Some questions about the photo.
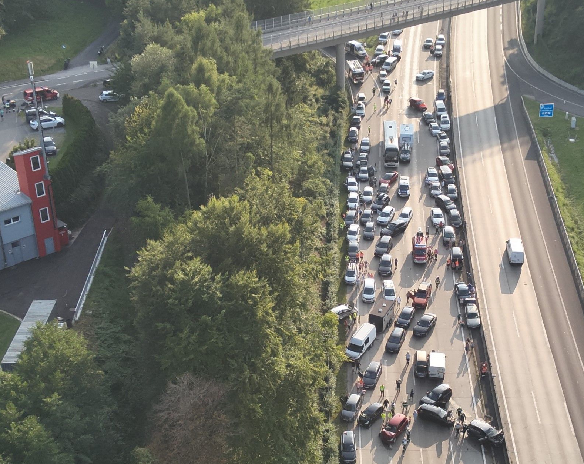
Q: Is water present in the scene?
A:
No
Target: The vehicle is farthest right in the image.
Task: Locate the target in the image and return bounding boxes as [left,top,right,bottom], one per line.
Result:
[507,239,524,262]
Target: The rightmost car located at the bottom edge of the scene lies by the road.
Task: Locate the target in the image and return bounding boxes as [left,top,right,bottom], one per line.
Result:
[467,414,503,445]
